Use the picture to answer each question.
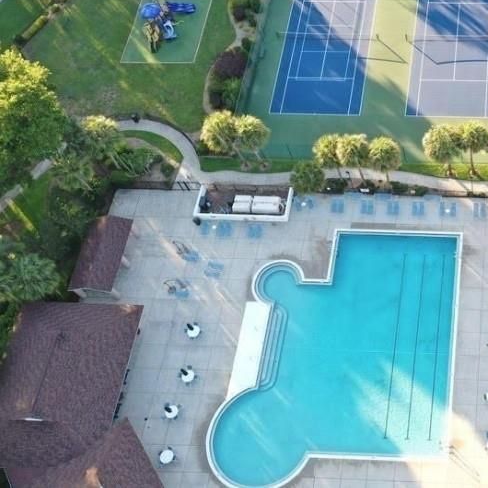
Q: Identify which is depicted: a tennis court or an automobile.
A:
tennis court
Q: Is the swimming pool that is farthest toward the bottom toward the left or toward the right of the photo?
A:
right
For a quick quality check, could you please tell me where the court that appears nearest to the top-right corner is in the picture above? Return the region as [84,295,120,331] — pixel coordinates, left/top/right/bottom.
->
[405,0,488,118]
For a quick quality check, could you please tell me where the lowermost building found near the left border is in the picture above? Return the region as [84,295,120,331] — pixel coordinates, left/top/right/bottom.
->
[0,300,171,488]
